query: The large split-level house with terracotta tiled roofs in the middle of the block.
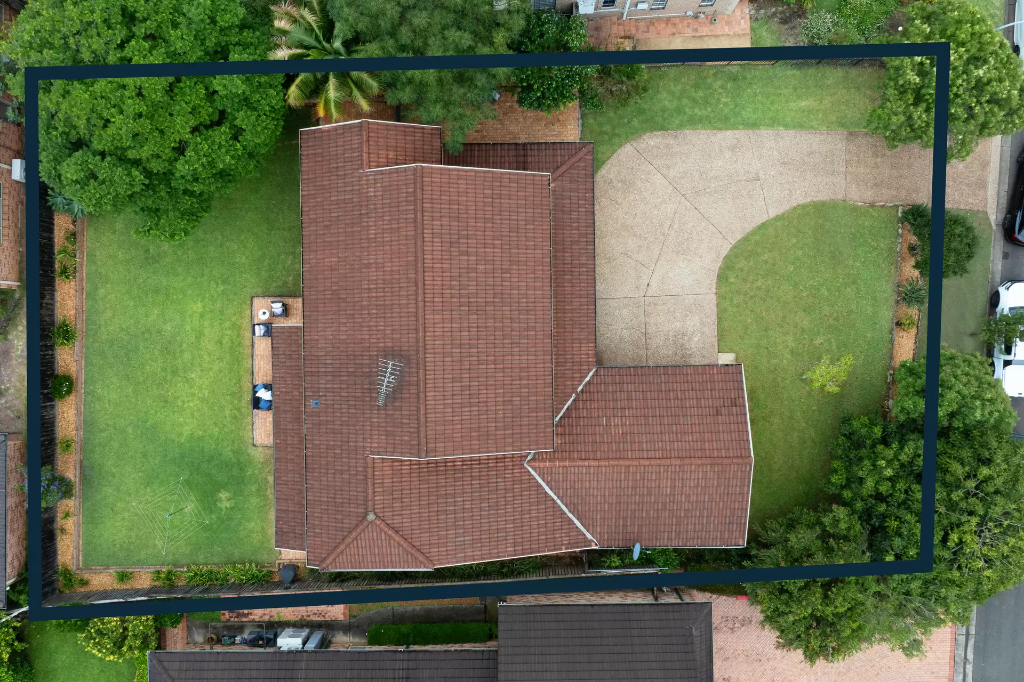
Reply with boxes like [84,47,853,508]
[298,119,755,573]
